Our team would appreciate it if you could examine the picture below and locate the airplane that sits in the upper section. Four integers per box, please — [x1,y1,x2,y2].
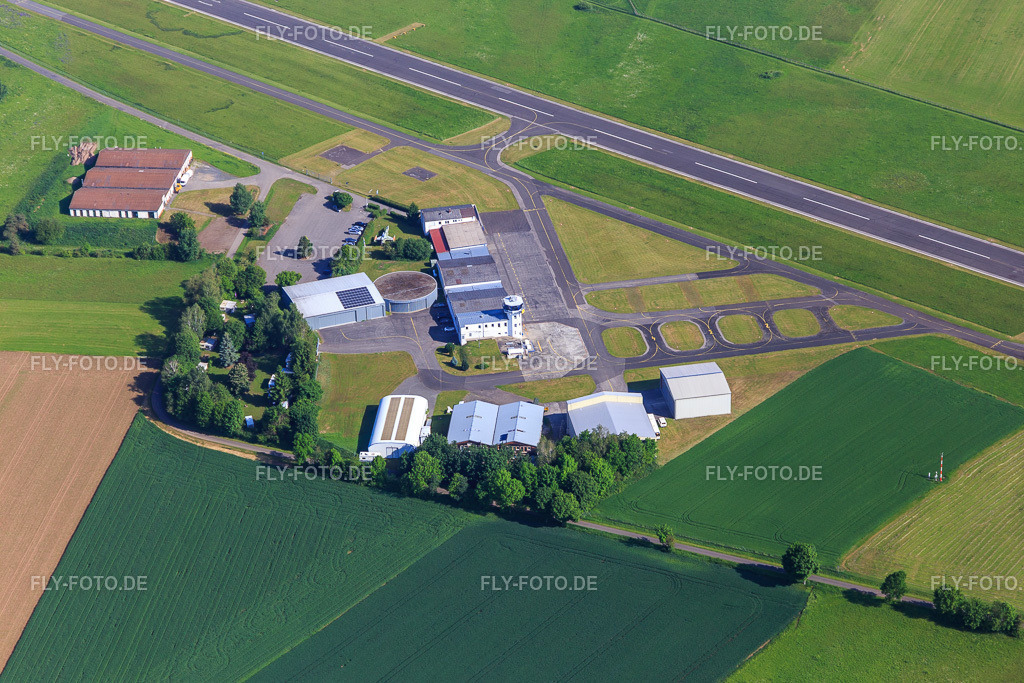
[370,225,398,243]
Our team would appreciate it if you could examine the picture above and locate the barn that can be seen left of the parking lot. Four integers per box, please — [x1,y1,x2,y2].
[69,148,190,218]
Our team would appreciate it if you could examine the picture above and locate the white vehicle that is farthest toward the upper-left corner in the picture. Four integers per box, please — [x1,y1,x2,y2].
[180,170,193,187]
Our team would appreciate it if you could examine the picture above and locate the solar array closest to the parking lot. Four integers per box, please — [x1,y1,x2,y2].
[336,287,373,309]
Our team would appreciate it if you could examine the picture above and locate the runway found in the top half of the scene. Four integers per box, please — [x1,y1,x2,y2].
[161,0,1024,289]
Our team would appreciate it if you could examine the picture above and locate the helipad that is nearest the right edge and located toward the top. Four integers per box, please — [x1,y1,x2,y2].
[403,166,436,181]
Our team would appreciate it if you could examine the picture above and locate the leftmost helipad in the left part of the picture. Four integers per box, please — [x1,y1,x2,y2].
[321,145,367,165]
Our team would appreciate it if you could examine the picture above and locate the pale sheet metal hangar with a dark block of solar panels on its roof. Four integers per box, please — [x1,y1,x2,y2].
[285,272,386,329]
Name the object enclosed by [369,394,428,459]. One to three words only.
hangar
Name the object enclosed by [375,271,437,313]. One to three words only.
hangar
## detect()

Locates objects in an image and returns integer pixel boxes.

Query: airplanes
[370,225,398,243]
[441,406,453,414]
